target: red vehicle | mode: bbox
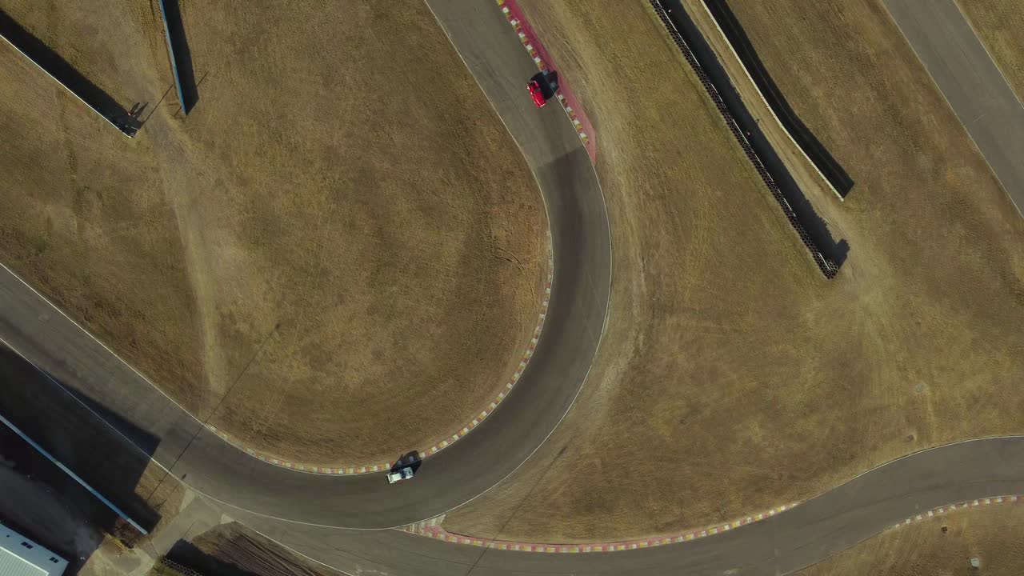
[528,80,546,107]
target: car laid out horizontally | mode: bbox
[387,468,414,482]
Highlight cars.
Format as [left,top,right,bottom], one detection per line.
[387,468,414,482]
[528,80,546,107]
